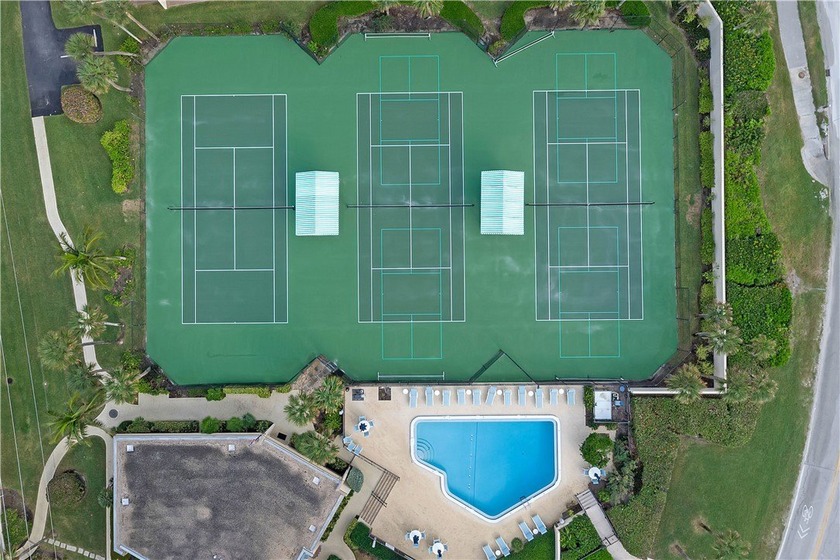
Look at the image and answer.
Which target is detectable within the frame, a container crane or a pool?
pool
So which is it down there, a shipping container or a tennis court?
tennis court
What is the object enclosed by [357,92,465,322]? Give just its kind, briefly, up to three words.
tennis court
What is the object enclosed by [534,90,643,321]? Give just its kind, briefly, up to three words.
tennis court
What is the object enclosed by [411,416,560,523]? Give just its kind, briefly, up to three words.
swimming pool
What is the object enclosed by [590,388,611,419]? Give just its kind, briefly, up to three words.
shed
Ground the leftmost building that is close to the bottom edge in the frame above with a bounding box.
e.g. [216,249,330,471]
[113,433,345,560]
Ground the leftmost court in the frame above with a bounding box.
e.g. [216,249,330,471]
[181,94,288,324]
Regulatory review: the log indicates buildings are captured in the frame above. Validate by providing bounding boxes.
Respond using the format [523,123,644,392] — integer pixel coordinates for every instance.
[590,388,611,419]
[113,433,345,560]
